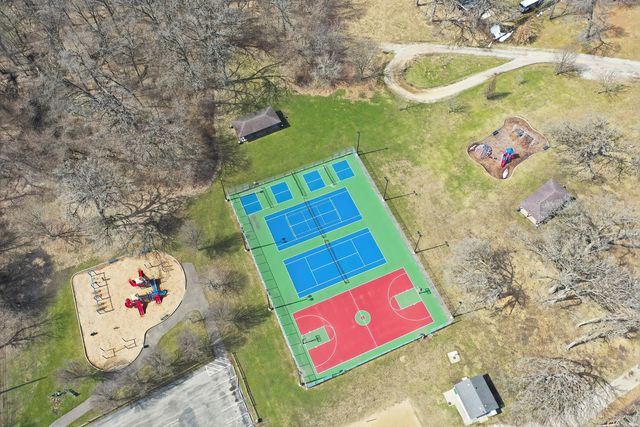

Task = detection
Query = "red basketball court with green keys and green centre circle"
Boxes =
[292,268,434,373]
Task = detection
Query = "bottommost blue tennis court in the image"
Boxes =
[282,228,387,298]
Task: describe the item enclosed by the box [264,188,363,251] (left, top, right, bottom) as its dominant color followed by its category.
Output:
blue tennis court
